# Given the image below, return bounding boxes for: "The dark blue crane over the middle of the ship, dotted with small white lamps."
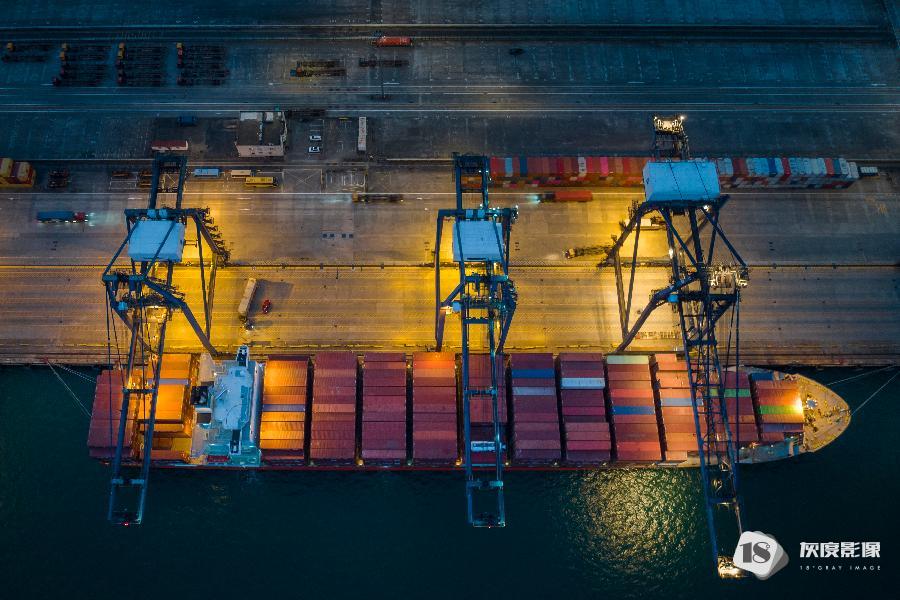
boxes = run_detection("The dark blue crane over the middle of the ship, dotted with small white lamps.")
[425,156,528,523]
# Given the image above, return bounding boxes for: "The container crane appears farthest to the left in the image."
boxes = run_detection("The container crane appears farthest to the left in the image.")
[100,155,235,522]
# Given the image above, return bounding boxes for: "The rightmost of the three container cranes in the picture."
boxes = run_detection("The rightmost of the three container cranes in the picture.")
[596,117,757,578]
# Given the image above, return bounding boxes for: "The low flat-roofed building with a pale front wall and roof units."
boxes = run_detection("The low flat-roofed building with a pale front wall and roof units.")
[234,112,291,157]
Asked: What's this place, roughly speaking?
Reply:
port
